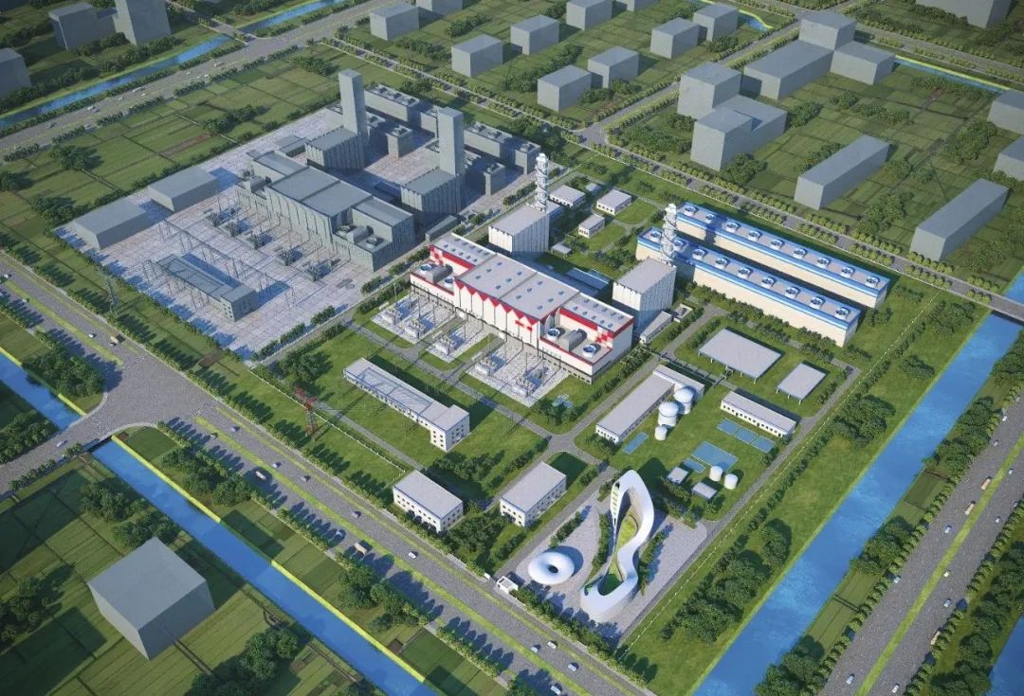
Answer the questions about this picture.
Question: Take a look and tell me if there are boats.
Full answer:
No, there's no boat here.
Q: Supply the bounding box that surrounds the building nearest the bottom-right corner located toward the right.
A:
[720,391,796,440]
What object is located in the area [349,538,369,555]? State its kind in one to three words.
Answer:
vehicle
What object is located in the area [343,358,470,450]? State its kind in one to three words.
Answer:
building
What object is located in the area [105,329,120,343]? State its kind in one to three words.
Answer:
vehicle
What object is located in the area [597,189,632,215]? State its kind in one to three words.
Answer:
shed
